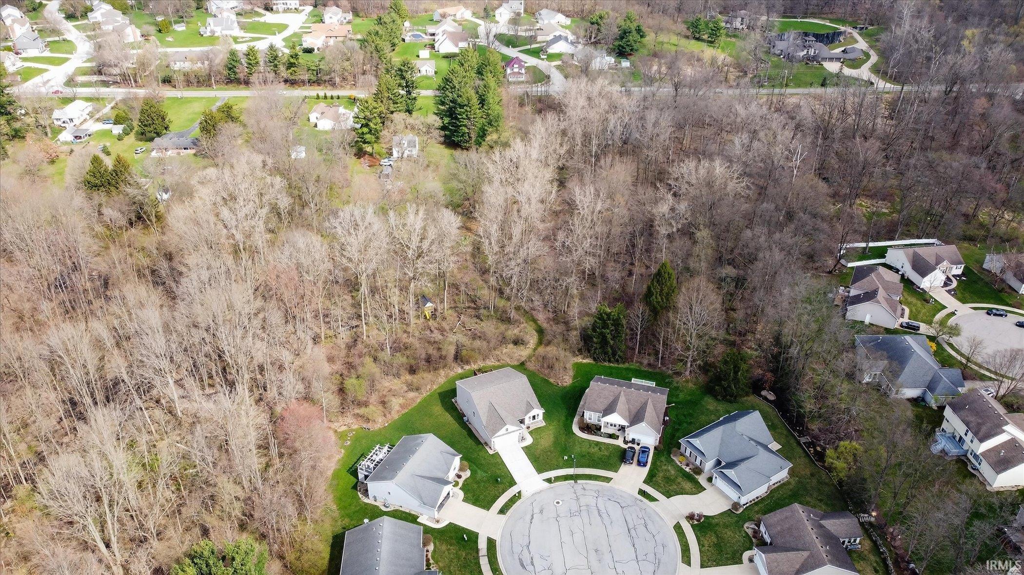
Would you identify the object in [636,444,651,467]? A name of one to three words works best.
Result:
car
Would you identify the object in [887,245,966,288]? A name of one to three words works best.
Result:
house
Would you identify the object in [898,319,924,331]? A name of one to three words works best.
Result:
vehicle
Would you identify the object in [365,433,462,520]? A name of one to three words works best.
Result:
house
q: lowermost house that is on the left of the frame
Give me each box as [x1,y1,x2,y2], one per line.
[340,525,423,575]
